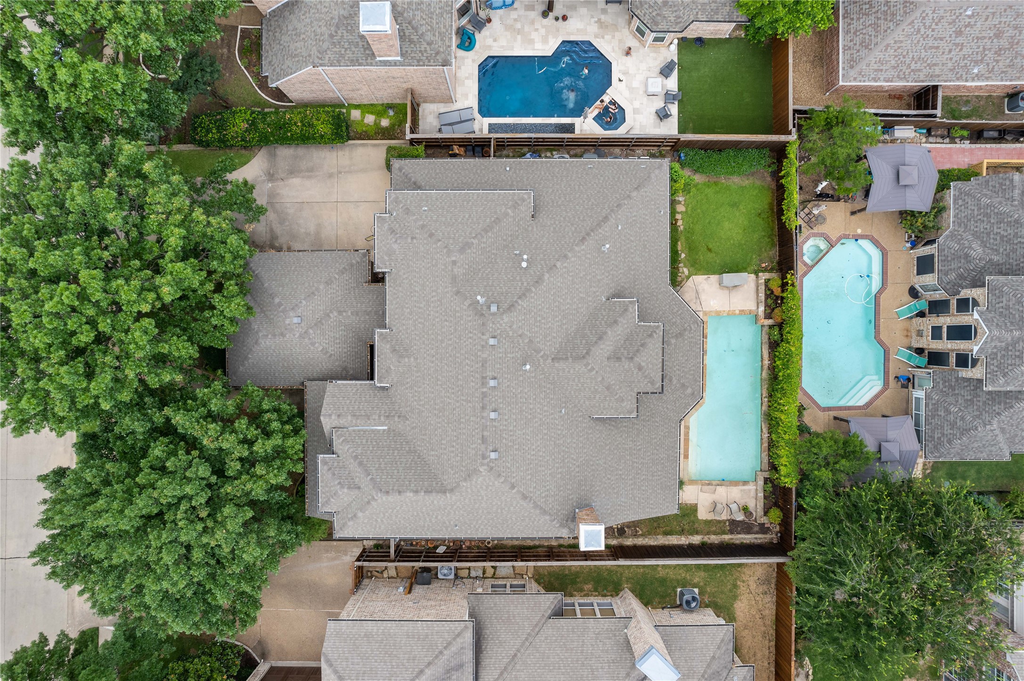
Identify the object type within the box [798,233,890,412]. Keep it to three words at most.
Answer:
swimming pool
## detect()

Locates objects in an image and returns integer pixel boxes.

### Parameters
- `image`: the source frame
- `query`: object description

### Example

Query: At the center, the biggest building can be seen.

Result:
[224,156,706,550]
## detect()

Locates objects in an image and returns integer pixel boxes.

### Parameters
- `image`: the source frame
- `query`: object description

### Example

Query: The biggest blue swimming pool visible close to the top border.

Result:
[473,34,617,122]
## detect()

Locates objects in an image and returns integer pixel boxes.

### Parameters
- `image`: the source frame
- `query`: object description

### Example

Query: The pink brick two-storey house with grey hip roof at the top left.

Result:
[250,0,473,106]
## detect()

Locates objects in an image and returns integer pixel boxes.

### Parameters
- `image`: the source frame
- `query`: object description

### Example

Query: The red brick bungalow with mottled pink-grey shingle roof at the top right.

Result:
[823,0,1024,97]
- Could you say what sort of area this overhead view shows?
residential area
